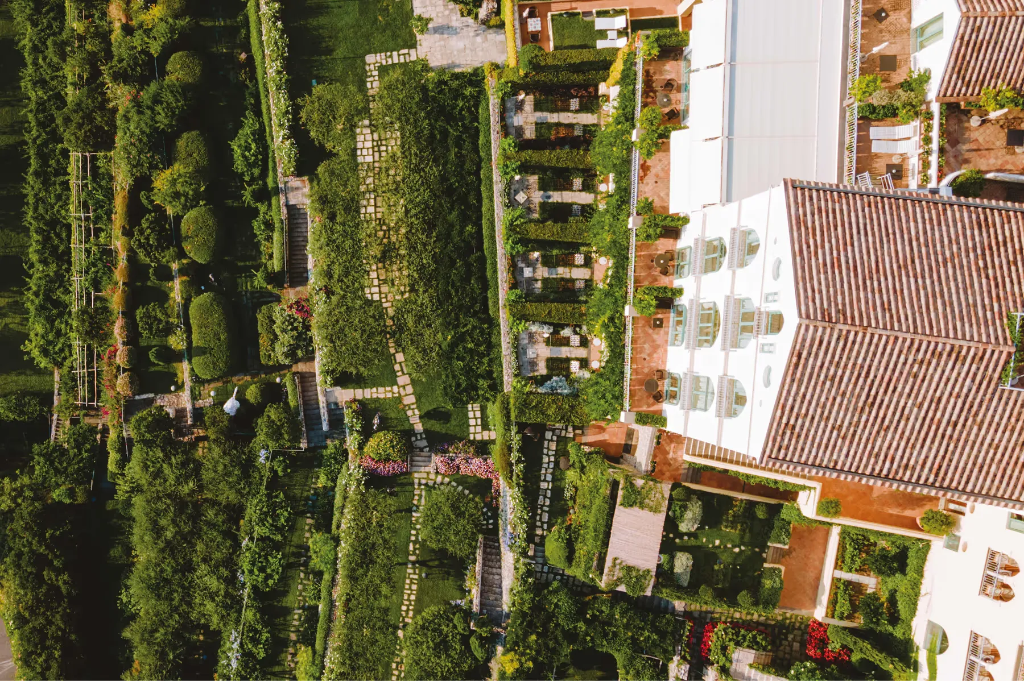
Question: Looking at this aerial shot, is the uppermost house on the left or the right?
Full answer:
The uppermost house sits on the right side.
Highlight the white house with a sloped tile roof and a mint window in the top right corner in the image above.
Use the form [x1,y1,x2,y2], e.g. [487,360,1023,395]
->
[912,0,1024,103]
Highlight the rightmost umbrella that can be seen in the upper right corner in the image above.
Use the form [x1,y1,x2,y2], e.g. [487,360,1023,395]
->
[970,104,1021,128]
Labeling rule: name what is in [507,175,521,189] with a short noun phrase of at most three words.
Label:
umbrella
